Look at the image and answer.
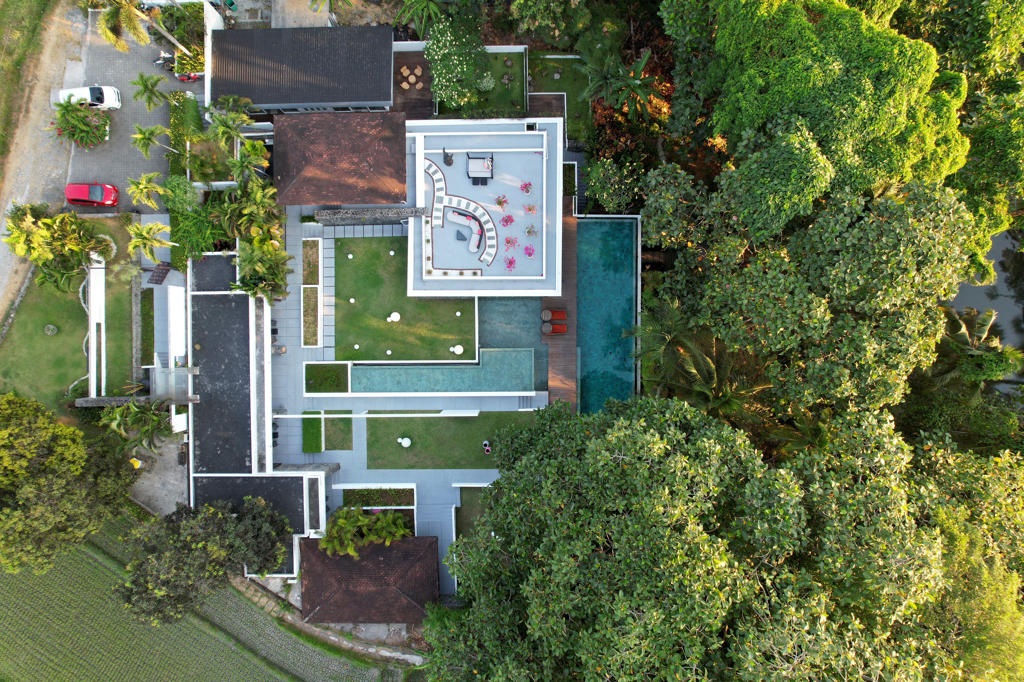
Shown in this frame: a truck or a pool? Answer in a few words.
pool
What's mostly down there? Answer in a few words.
trees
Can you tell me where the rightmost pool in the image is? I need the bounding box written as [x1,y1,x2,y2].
[578,209,633,411]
